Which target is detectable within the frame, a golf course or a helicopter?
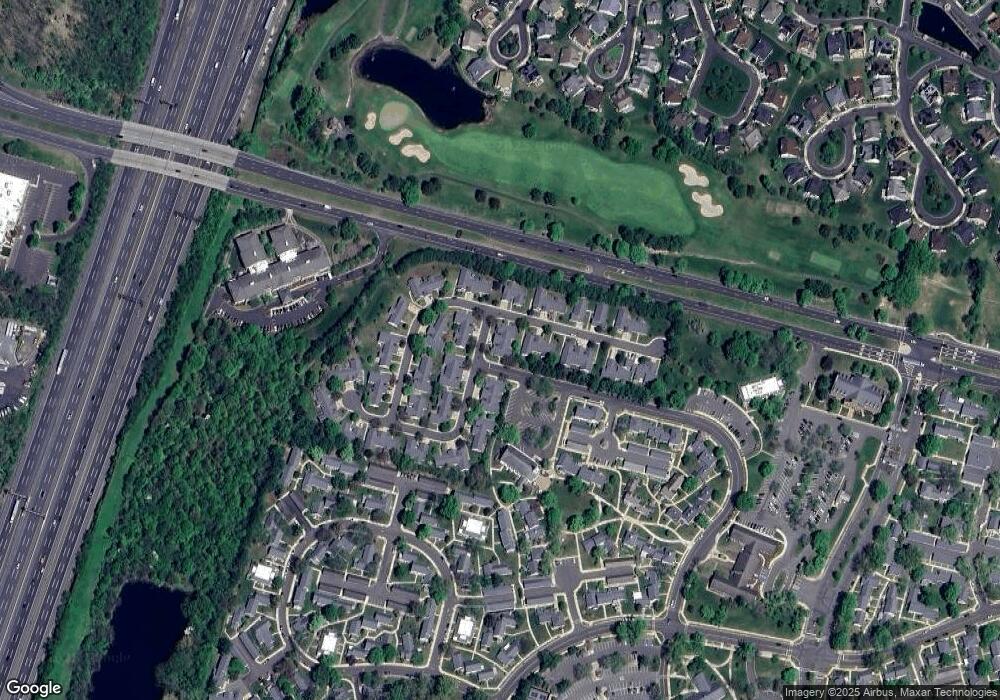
golf course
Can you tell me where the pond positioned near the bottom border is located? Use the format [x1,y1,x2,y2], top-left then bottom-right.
[89,580,187,700]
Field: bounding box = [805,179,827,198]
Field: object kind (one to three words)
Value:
house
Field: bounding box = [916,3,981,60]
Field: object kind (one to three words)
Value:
pond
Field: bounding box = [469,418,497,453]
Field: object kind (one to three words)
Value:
house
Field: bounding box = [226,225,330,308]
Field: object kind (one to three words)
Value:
building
